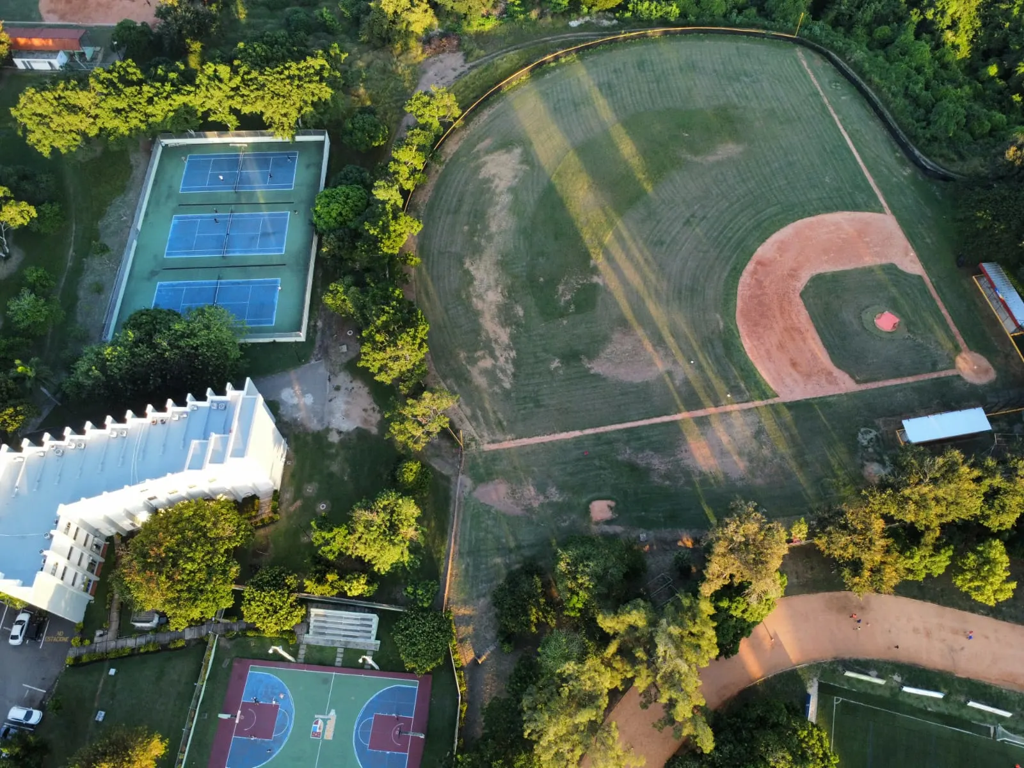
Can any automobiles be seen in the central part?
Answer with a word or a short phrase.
No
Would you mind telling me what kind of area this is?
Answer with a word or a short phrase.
sports ground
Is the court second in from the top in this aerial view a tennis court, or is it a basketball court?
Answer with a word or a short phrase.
tennis court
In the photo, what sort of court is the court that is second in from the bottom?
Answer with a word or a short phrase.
tennis court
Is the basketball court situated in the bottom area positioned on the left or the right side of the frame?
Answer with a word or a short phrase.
left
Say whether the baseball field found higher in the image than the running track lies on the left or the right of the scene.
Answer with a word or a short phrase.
right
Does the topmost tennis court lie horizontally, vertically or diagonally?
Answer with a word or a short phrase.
horizontally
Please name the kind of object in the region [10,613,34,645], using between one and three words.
car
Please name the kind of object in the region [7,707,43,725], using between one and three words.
car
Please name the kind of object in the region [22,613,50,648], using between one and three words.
truck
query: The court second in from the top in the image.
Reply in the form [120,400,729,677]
[165,207,289,258]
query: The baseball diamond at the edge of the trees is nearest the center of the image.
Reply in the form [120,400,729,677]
[404,35,1024,605]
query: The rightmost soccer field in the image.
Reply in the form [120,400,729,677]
[814,680,1024,768]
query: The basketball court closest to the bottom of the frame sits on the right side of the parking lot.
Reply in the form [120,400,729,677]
[208,657,432,768]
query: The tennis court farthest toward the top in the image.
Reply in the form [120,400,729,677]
[179,146,297,193]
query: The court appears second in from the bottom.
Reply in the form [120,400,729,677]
[153,274,281,327]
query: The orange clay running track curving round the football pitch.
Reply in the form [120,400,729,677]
[579,591,1024,768]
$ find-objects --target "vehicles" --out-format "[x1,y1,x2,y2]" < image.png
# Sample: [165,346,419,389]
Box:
[0,725,20,743]
[10,613,34,645]
[7,707,43,725]
[22,613,50,648]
